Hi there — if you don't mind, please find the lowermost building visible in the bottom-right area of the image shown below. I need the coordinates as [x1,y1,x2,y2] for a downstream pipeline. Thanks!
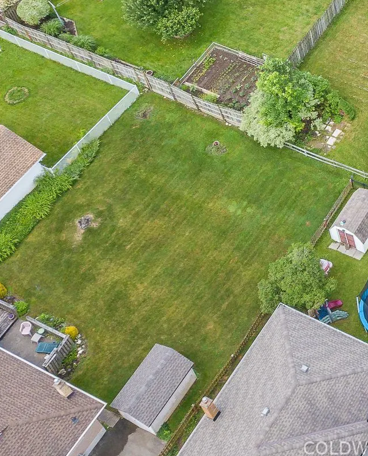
[171,304,368,456]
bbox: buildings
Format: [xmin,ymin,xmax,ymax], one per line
[110,345,205,442]
[0,346,109,456]
[330,187,368,254]
[0,124,49,220]
[171,304,368,456]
